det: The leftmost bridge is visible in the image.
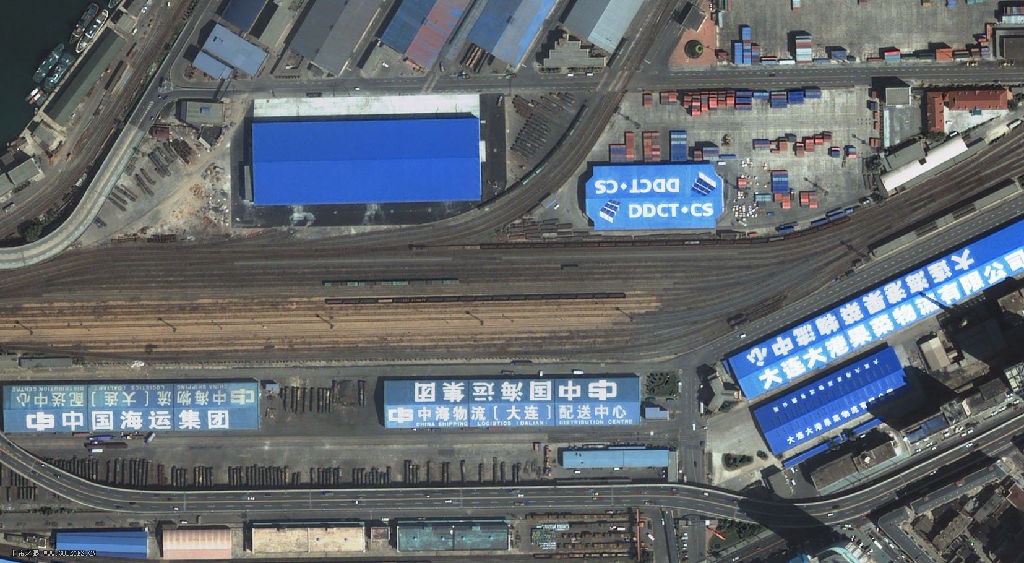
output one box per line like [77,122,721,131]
[0,100,160,269]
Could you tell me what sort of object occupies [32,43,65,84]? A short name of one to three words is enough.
ship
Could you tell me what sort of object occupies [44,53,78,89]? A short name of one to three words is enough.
ship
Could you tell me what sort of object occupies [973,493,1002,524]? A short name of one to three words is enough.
house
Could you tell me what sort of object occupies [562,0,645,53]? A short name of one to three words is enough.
building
